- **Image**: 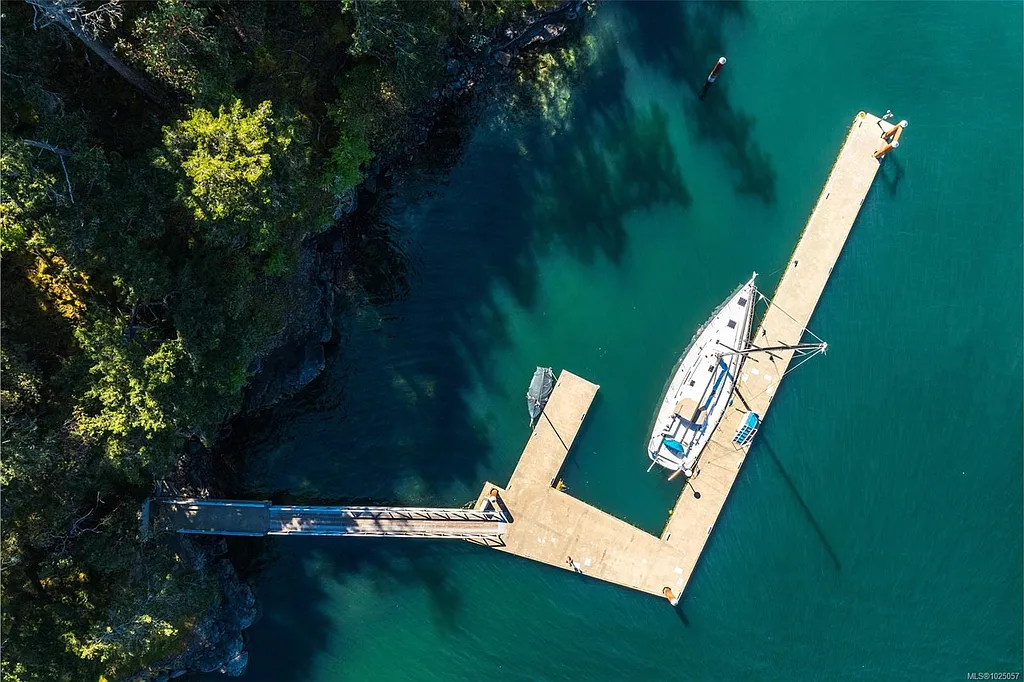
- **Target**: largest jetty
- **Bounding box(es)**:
[470,112,894,603]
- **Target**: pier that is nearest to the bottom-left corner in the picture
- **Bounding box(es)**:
[149,494,284,538]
